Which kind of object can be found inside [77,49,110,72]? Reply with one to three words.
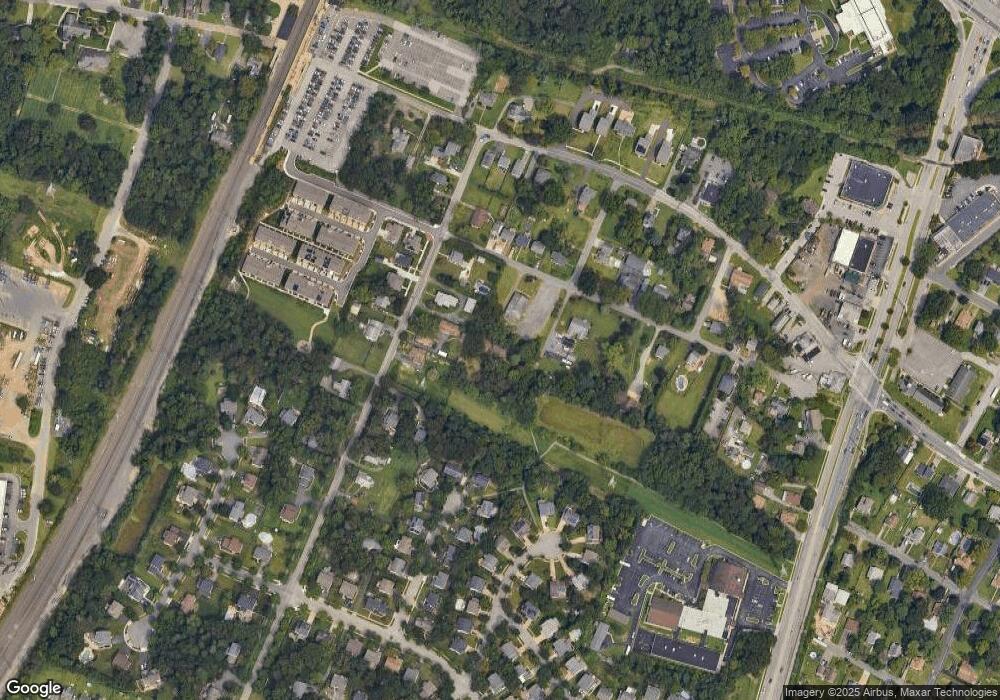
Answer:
barn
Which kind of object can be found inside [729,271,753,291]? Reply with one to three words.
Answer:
house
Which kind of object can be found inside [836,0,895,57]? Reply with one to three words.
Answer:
building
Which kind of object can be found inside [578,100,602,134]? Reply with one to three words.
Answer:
house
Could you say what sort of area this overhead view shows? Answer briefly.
residential area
